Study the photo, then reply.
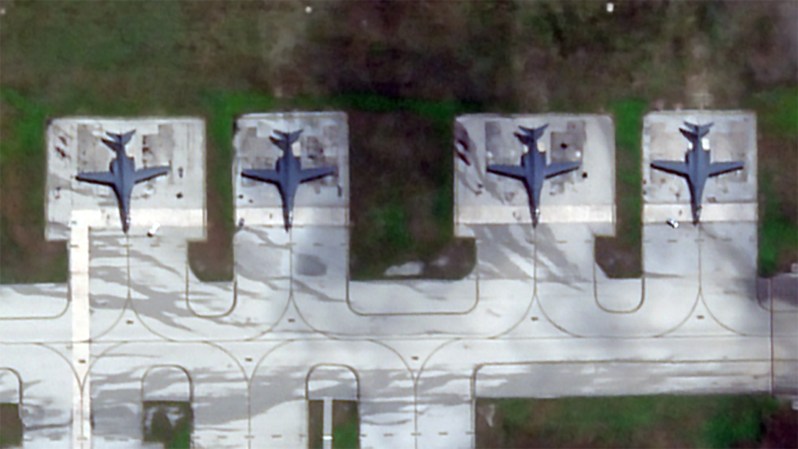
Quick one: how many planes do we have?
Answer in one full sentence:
The picture shows 4 planes.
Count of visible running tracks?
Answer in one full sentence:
The photo contains no running tracks.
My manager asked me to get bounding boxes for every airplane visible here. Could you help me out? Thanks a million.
[651,122,745,222]
[76,130,170,231]
[242,129,335,228]
[488,126,581,226]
